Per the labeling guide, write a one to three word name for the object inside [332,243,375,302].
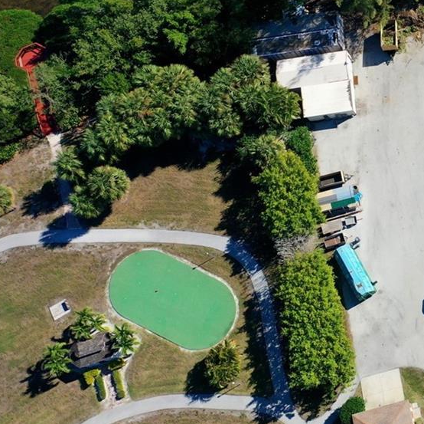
camper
